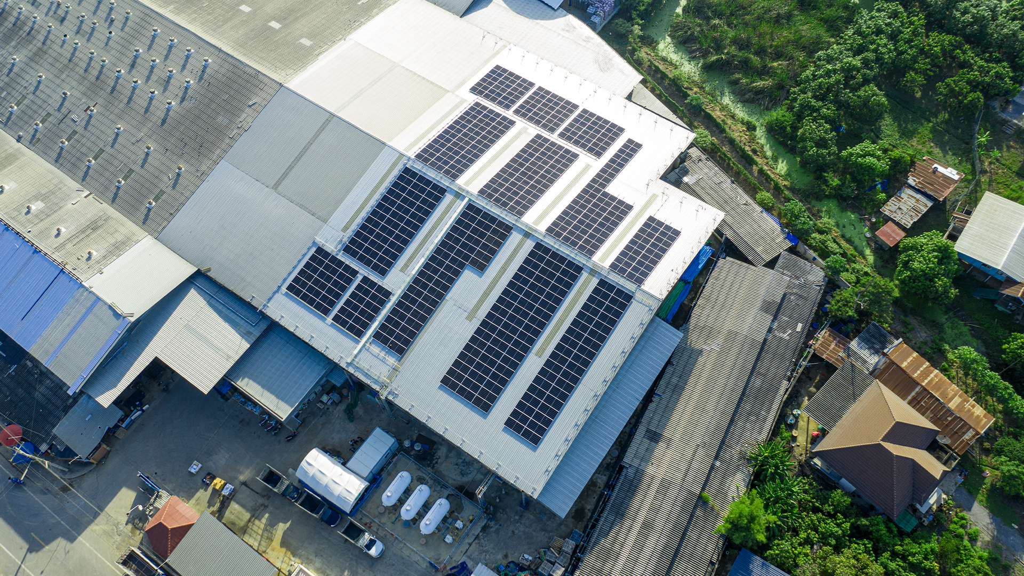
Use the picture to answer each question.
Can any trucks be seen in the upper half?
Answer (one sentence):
No, looking in the upper half, there is no truck.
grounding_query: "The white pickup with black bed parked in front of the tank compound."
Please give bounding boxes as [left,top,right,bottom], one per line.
[336,519,387,562]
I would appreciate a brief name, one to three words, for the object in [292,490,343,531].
truck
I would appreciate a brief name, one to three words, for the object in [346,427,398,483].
building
